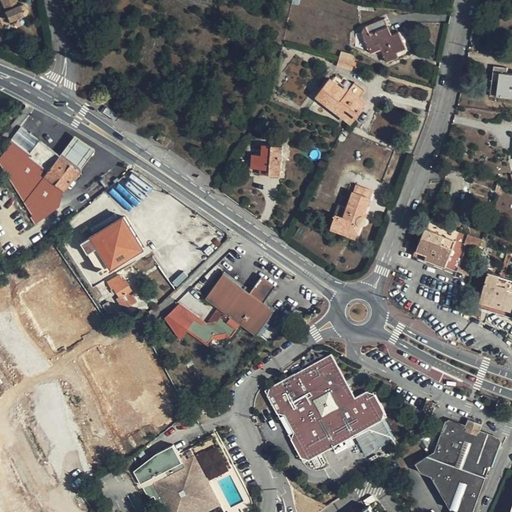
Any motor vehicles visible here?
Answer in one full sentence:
Yes, this view includes a motor vehicle.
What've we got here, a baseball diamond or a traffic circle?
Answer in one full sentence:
Visible in the photo is a traffic circle.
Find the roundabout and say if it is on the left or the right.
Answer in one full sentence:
The roundabout sits on the right side.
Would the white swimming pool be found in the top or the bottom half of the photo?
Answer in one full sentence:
The white swimming pool is in the bottom half of the image.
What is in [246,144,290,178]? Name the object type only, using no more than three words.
house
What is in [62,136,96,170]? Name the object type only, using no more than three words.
shed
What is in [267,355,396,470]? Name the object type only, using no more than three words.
building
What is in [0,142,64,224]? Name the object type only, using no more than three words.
building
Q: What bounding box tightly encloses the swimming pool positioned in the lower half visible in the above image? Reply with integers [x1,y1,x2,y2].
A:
[211,468,252,512]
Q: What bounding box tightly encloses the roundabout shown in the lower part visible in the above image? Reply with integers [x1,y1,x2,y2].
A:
[311,270,404,345]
